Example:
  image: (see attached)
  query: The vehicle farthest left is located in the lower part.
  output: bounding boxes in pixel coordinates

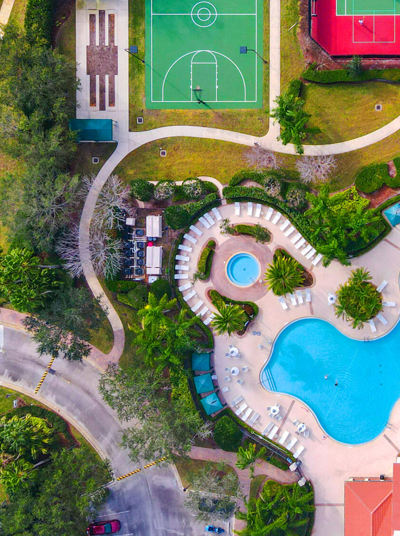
[87,516,122,536]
